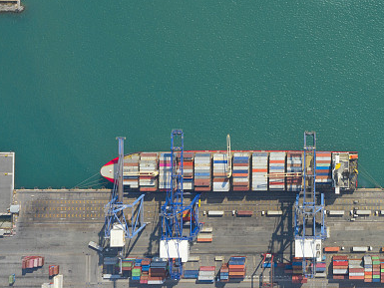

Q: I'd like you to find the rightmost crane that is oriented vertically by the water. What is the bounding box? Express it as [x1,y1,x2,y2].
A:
[292,128,326,282]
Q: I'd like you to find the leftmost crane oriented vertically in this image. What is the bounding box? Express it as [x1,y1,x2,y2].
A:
[104,134,152,273]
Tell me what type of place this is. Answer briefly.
port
